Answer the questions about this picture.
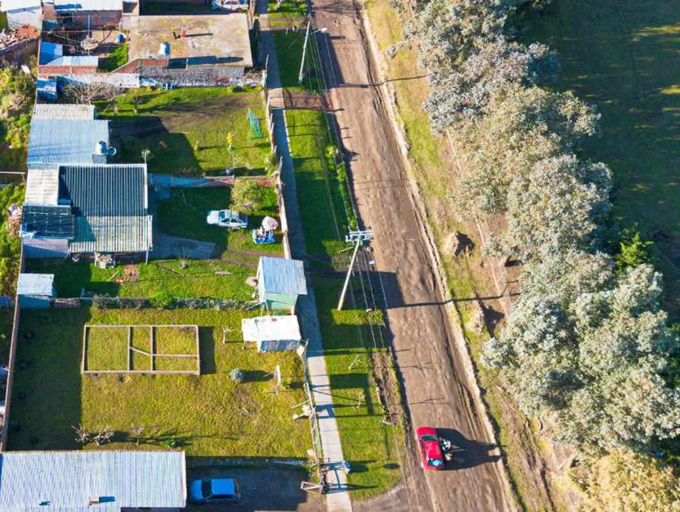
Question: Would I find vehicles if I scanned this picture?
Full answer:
Yes, the frame does contain a vehicle.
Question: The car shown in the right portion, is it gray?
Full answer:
No, the car shown in the right portion is actually red.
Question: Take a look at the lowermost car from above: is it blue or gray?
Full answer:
The lowermost car looks blue in the image.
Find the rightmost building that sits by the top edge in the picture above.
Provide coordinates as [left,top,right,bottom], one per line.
[114,13,253,79]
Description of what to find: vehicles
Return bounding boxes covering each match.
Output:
[415,427,446,474]
[214,0,250,13]
[206,209,249,230]
[190,478,241,505]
